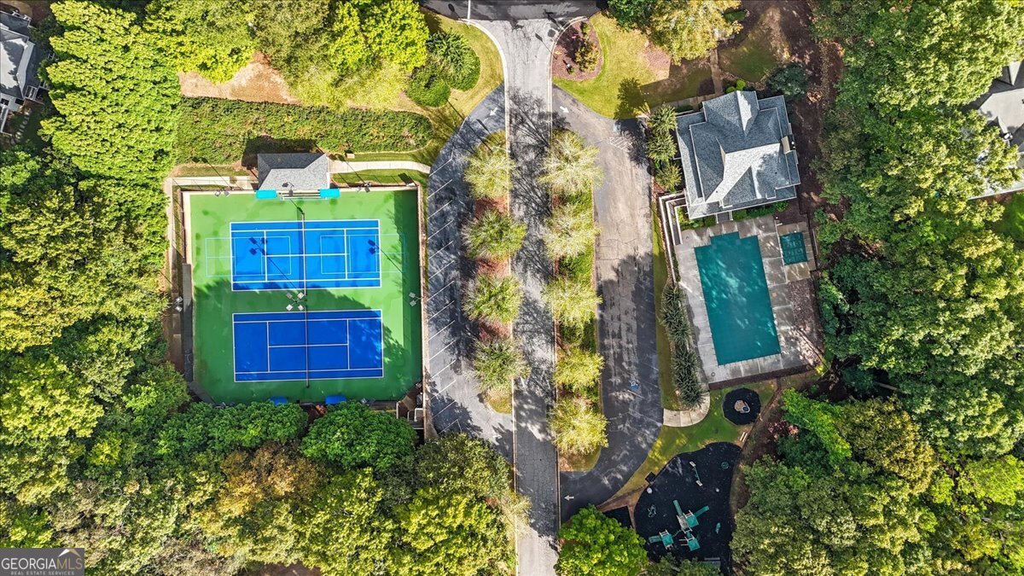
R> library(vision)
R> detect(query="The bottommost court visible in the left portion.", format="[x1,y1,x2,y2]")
[233,305,383,387]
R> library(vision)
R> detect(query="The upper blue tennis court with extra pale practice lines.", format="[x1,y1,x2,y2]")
[206,214,406,296]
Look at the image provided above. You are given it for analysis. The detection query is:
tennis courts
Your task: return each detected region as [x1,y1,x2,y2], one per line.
[233,305,383,387]
[206,214,406,296]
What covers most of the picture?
trees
